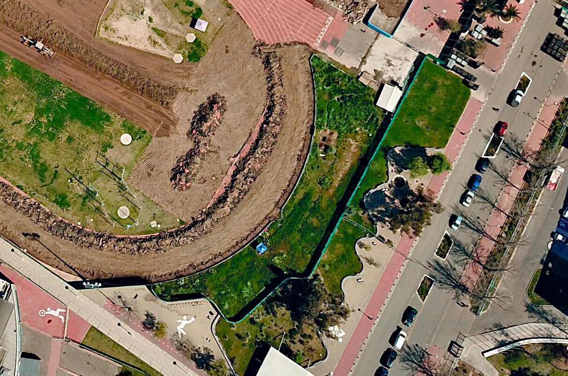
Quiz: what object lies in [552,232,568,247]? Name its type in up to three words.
car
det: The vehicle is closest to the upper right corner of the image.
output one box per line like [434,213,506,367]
[511,89,526,108]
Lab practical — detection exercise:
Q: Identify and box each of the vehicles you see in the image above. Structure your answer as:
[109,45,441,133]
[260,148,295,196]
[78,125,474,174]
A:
[382,349,397,368]
[394,329,407,351]
[498,121,507,137]
[462,190,474,208]
[552,232,568,247]
[450,215,463,231]
[511,89,526,108]
[468,174,481,190]
[402,307,417,326]
[22,37,57,61]
[477,156,490,174]
[563,210,568,219]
